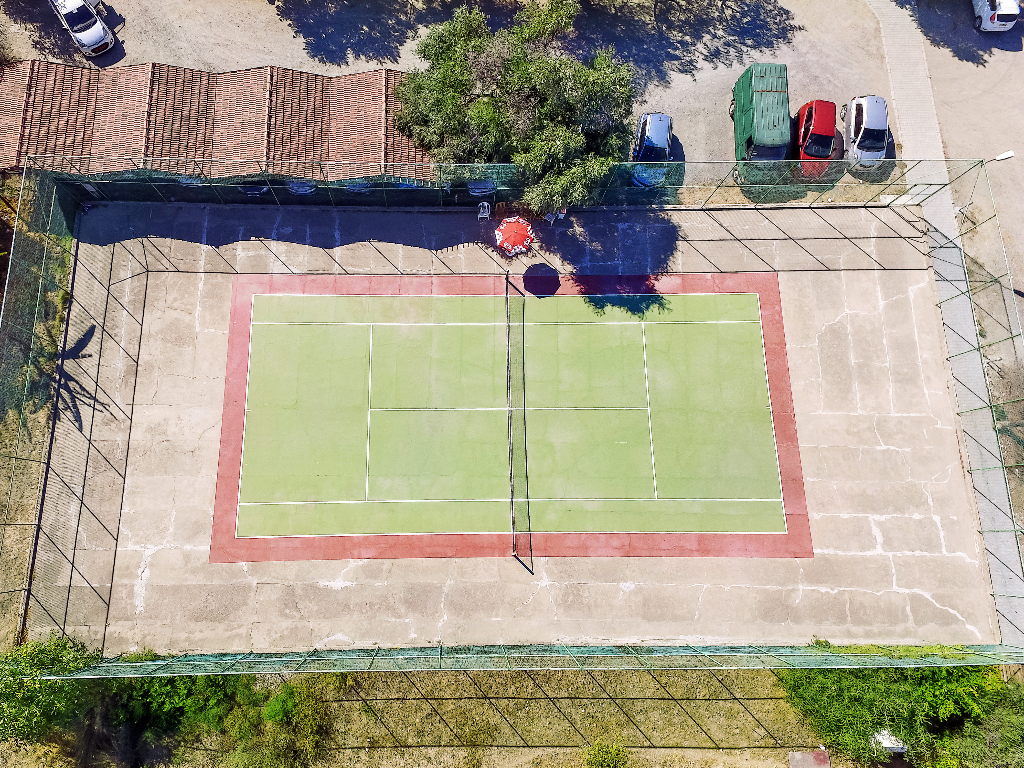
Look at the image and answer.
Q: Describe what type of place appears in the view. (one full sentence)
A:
What you see here is a sports ground.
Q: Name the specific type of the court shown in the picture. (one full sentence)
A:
The court appears to be a tennis court.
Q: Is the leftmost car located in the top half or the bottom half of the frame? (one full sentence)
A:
The leftmost car sits in the top half of the picture.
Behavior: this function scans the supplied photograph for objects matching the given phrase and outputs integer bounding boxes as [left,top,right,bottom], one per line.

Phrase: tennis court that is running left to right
[16,200,1004,657]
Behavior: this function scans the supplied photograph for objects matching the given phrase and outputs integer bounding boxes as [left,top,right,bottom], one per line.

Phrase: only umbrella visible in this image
[495,217,535,255]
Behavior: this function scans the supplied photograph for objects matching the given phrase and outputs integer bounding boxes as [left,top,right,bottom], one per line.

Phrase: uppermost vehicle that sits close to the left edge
[50,0,120,56]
